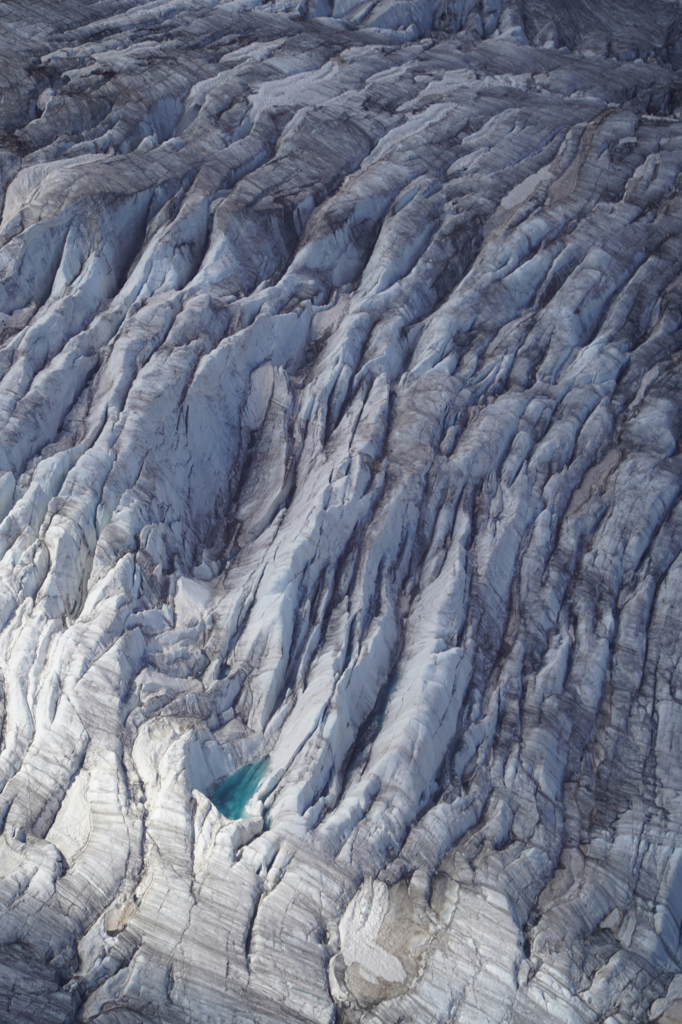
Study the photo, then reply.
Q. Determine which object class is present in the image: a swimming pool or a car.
swimming pool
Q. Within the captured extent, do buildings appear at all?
No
